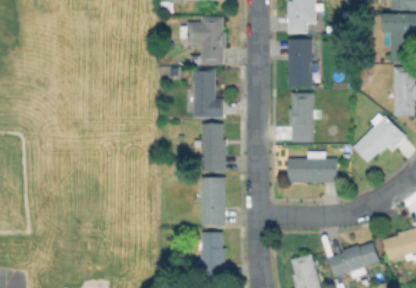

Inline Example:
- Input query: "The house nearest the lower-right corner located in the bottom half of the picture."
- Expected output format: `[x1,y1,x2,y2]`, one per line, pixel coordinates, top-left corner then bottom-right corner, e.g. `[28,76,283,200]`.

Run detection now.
[382,228,416,262]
